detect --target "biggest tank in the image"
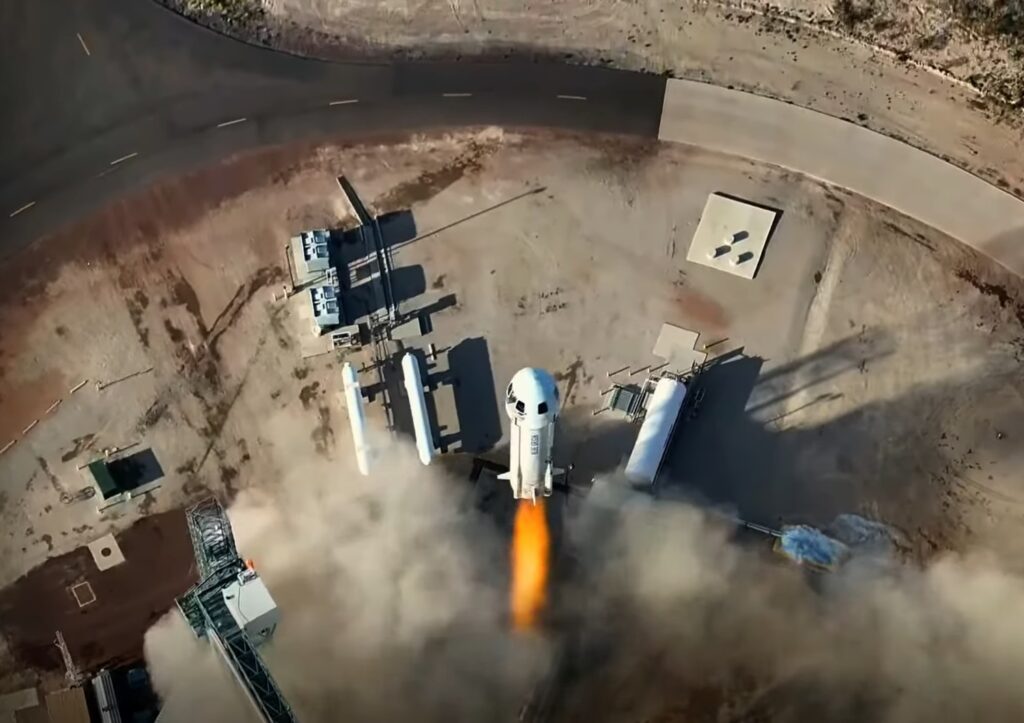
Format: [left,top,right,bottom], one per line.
[625,365,696,495]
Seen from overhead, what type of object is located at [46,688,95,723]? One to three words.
shed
